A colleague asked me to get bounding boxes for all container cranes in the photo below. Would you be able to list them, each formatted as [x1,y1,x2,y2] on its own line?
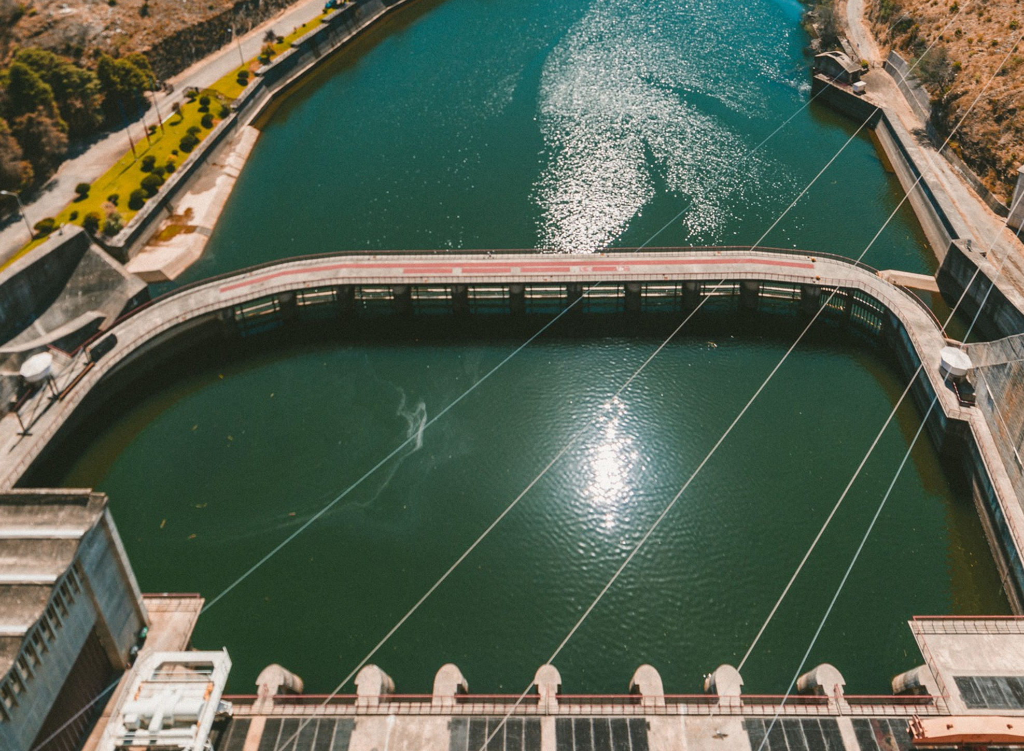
[112,649,247,751]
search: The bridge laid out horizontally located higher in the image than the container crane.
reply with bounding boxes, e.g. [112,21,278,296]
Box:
[0,251,948,491]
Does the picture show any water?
Yes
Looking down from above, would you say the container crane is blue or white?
white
